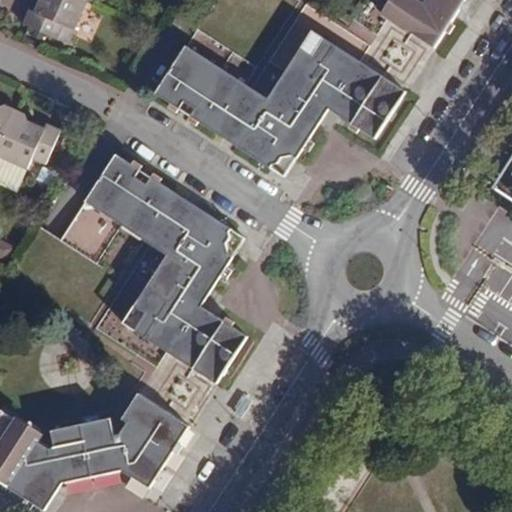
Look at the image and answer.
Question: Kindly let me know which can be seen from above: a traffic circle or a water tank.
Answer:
traffic circle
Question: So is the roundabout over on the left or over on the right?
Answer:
right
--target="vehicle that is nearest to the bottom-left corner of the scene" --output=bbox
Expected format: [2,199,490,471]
[197,458,217,483]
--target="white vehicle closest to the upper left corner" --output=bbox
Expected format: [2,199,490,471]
[132,140,160,162]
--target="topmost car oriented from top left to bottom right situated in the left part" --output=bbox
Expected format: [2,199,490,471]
[148,106,173,127]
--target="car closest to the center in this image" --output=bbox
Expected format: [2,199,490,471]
[236,209,260,228]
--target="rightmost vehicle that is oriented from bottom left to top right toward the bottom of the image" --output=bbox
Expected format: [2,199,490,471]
[220,422,240,447]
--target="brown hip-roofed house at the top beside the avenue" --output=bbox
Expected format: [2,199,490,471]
[386,0,466,47]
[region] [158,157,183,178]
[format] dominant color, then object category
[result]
white car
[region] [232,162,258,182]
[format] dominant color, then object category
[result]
white car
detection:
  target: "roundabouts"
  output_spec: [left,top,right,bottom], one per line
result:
[286,192,439,343]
